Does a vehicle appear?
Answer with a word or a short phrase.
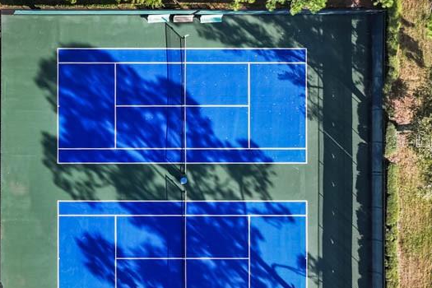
No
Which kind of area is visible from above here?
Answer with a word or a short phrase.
sports ground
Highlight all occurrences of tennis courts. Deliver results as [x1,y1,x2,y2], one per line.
[2,183,372,288]
[0,17,372,183]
